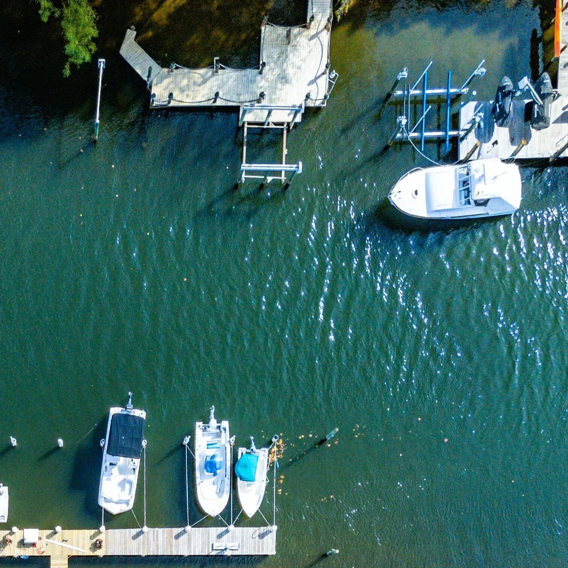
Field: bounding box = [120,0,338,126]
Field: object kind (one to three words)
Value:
pier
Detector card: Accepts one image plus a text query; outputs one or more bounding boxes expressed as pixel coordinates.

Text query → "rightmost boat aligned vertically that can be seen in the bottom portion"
[234,434,270,517]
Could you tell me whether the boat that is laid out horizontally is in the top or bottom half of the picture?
top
